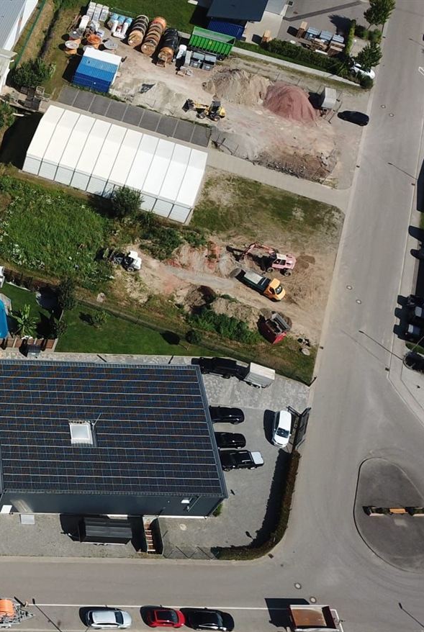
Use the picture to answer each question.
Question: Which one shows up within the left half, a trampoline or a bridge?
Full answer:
There is a trampoline within the left half.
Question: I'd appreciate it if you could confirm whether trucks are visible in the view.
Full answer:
Yes, there's a truck here.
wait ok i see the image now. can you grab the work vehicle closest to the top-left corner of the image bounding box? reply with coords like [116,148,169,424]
[186,98,223,120]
